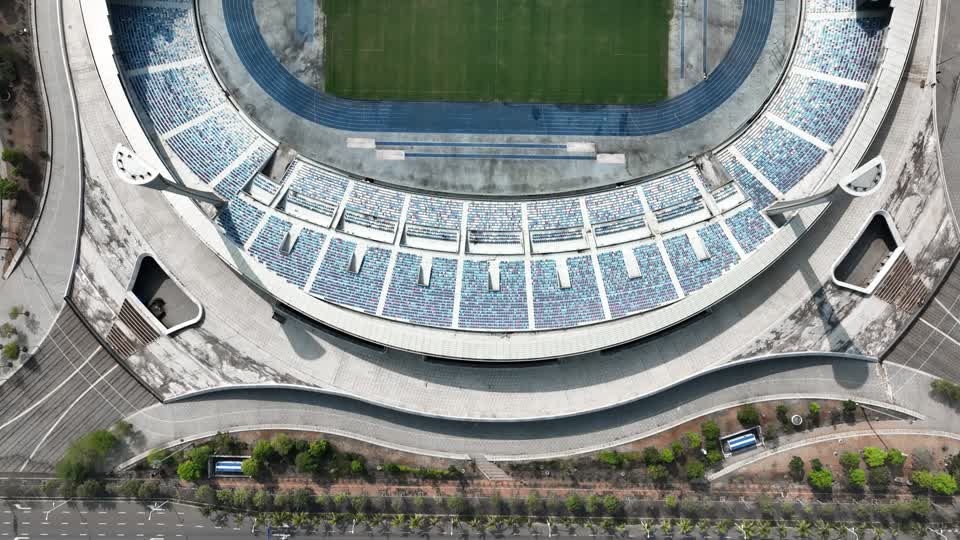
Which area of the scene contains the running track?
top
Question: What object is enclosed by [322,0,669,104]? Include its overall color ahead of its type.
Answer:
green soccer field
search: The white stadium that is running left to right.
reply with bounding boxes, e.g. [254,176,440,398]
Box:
[78,0,922,361]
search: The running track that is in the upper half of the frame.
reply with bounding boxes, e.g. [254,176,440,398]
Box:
[222,0,774,136]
